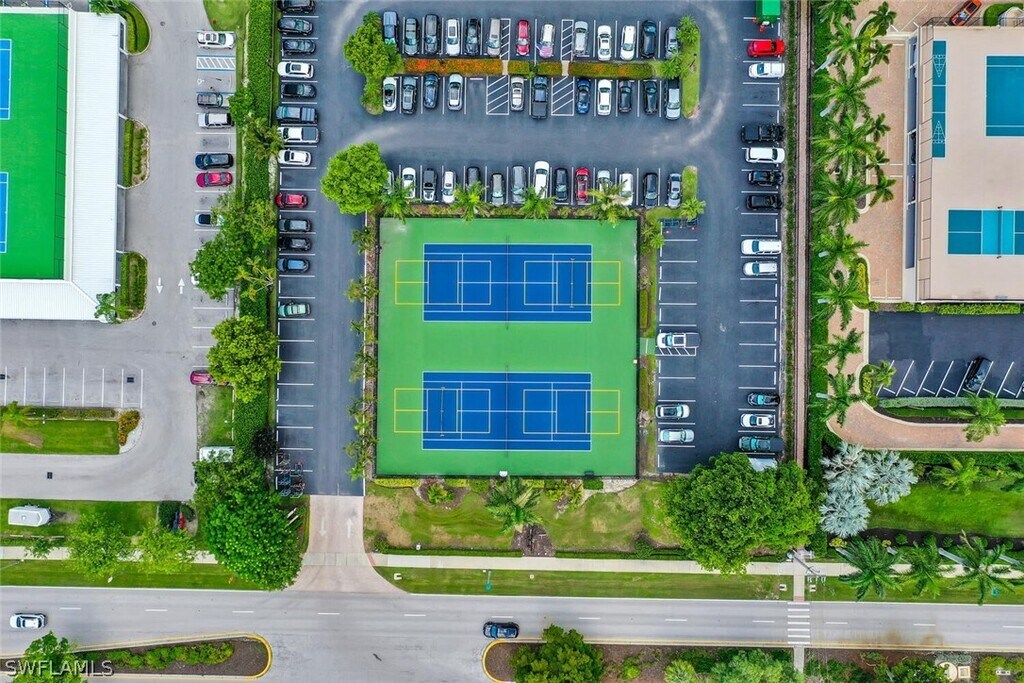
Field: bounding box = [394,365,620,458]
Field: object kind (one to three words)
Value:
tennis court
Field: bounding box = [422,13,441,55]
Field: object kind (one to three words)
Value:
car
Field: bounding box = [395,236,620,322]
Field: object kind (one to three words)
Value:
tennis court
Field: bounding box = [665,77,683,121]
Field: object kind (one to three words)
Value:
vehicle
